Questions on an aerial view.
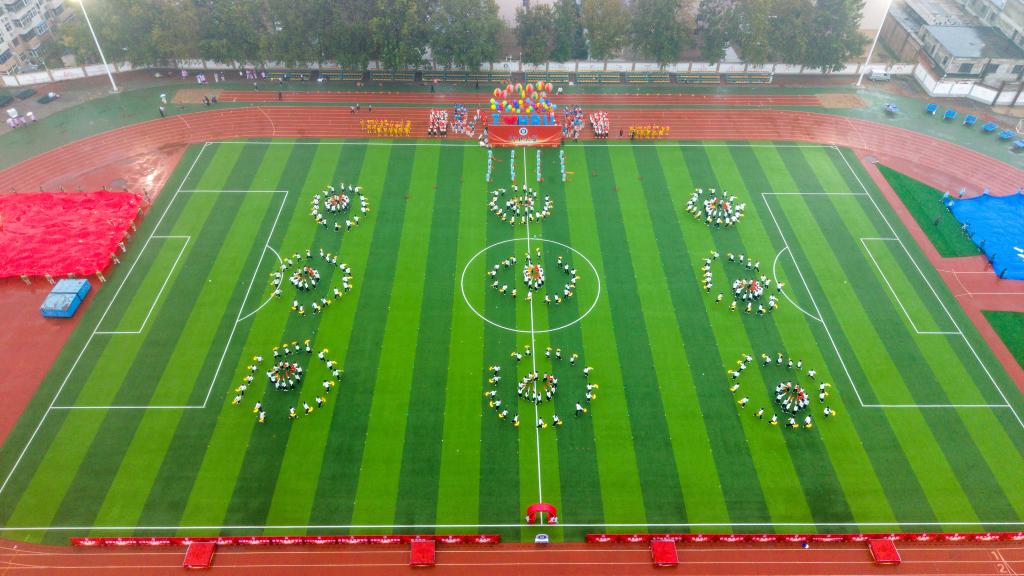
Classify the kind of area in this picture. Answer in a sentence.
The picture captures a sports ground.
